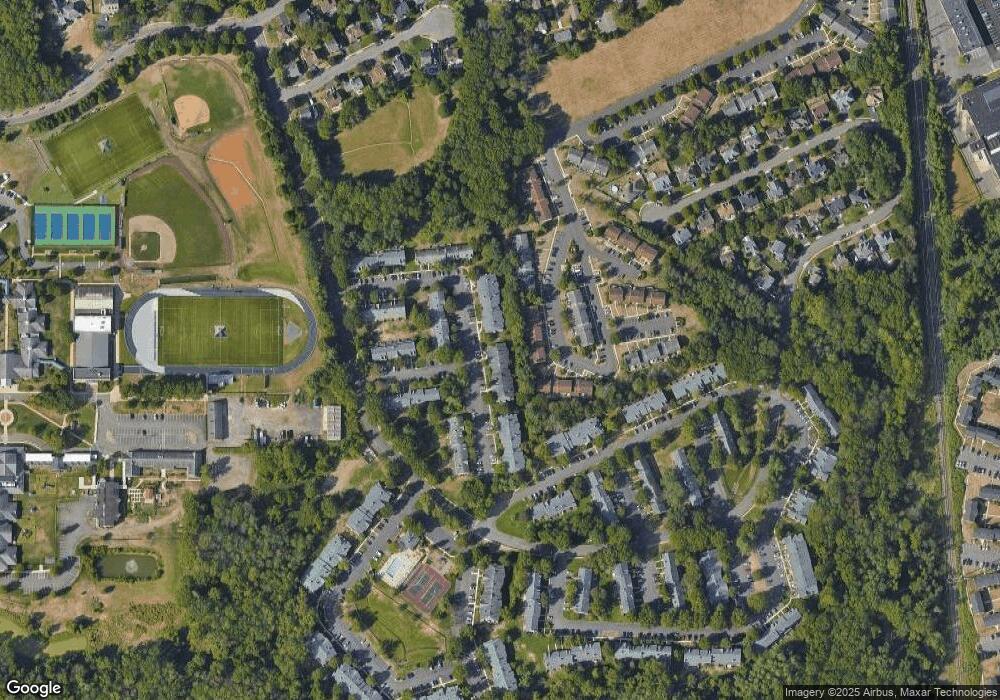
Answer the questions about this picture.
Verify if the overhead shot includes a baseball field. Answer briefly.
Yes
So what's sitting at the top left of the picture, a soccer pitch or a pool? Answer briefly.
soccer pitch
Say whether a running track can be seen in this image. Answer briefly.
Yes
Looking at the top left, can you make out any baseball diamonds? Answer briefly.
Yes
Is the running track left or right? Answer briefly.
left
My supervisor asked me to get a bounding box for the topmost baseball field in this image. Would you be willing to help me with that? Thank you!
[165,62,243,135]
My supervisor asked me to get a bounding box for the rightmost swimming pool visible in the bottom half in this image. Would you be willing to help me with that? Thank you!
[379,550,425,588]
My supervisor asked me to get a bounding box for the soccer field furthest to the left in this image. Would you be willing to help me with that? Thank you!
[41,94,165,195]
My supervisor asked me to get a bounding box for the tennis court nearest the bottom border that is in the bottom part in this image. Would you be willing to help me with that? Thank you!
[403,564,450,612]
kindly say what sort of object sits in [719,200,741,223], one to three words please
house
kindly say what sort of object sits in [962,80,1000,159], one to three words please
building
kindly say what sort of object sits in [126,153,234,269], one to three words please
baseball field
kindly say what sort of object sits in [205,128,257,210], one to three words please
baseball field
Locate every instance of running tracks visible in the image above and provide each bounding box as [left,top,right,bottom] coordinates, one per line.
[121,288,318,374]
